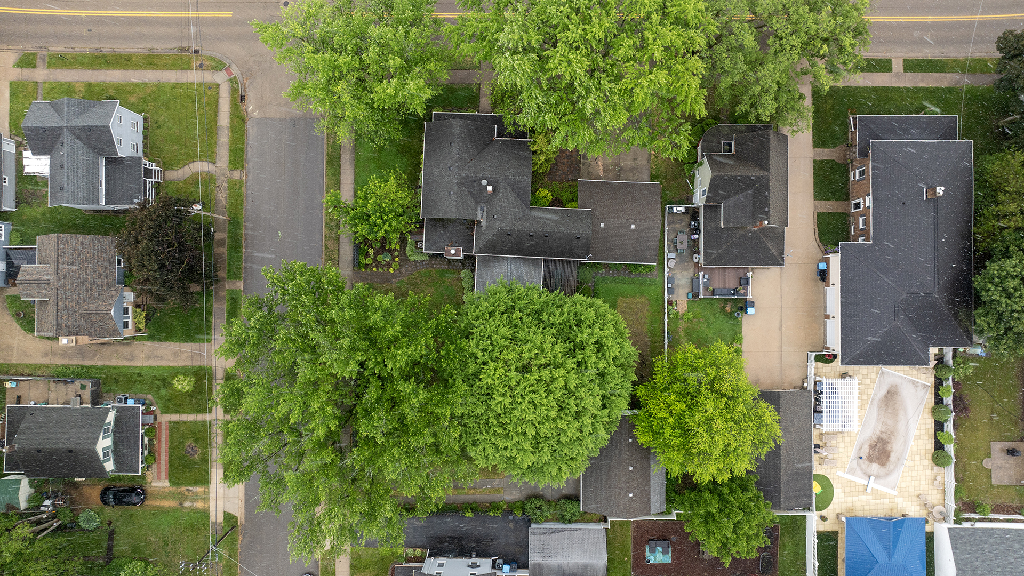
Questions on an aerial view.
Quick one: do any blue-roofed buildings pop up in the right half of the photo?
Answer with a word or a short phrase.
Yes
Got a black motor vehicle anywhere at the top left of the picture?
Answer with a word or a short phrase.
No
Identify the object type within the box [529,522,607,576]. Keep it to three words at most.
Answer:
building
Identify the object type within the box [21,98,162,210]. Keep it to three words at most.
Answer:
house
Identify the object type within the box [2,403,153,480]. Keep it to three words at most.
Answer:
house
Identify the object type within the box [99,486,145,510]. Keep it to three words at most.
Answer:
car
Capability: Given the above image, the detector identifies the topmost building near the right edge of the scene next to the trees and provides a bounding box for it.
[822,115,974,366]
